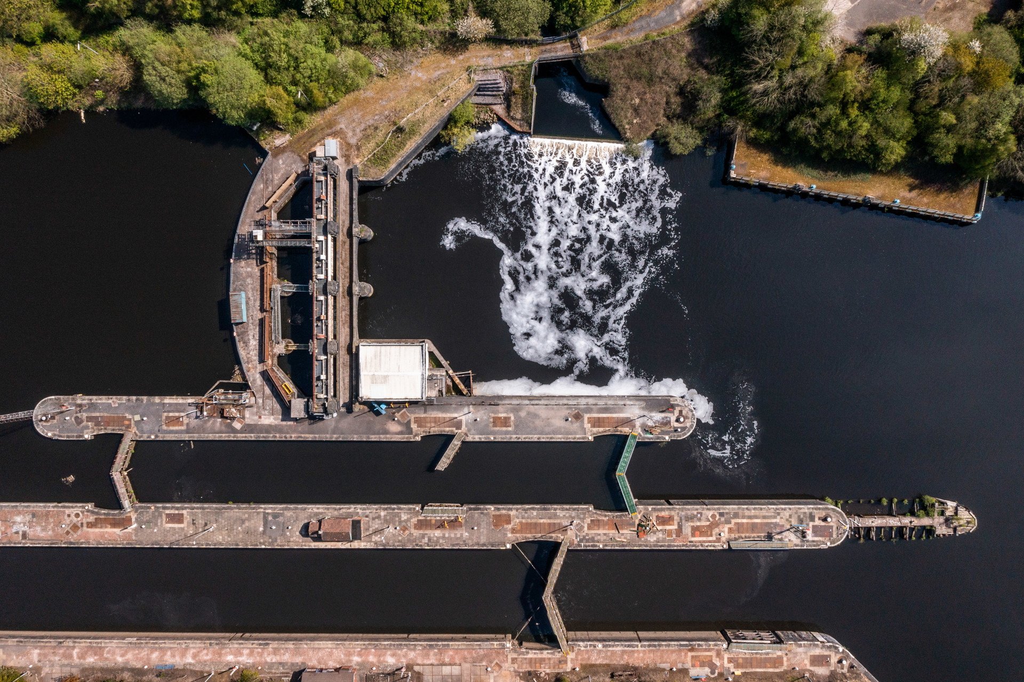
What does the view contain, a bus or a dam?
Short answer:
dam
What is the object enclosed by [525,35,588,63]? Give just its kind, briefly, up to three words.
bridge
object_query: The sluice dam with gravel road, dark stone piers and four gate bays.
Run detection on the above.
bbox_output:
[310,160,378,421]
